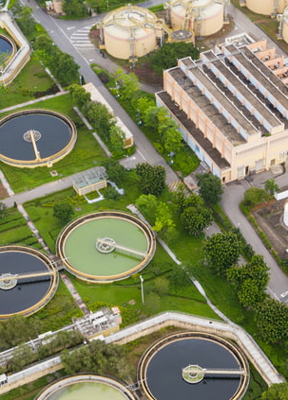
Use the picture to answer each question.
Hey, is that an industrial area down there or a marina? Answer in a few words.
industrial area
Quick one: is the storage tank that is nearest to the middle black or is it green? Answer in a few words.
green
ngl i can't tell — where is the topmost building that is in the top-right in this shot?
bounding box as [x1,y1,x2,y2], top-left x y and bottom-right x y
[153,33,288,182]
